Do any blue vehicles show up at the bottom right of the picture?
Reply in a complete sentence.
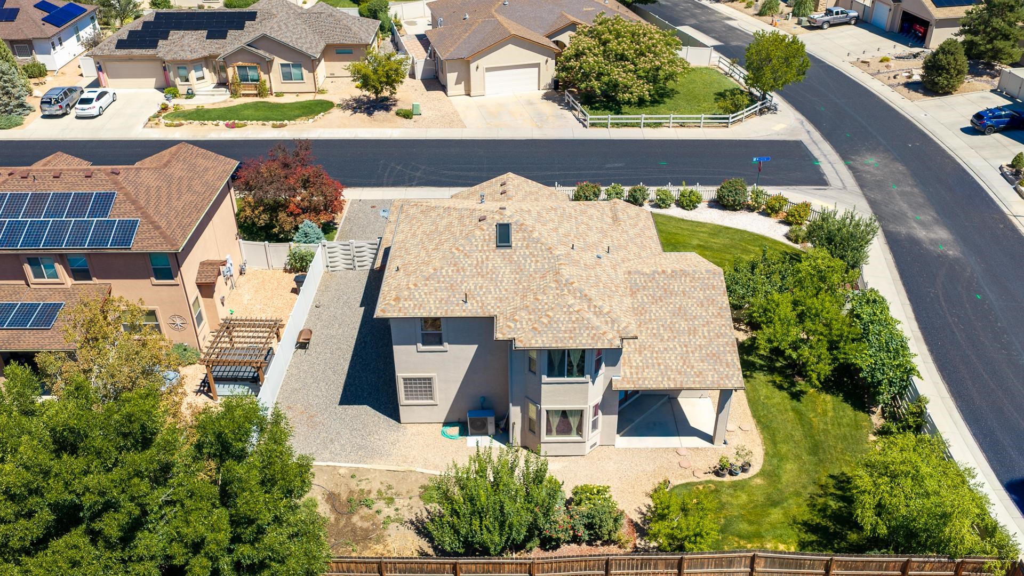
No, no blue vehicle is visible at the bottom right of the picture.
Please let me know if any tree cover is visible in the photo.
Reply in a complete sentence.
Yes, tree cover shows up in the scene.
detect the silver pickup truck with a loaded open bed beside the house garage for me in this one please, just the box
[811,5,861,28]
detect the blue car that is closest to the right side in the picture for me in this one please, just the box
[969,103,1024,132]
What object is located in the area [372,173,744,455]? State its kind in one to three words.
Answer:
house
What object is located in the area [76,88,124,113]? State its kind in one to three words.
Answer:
car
